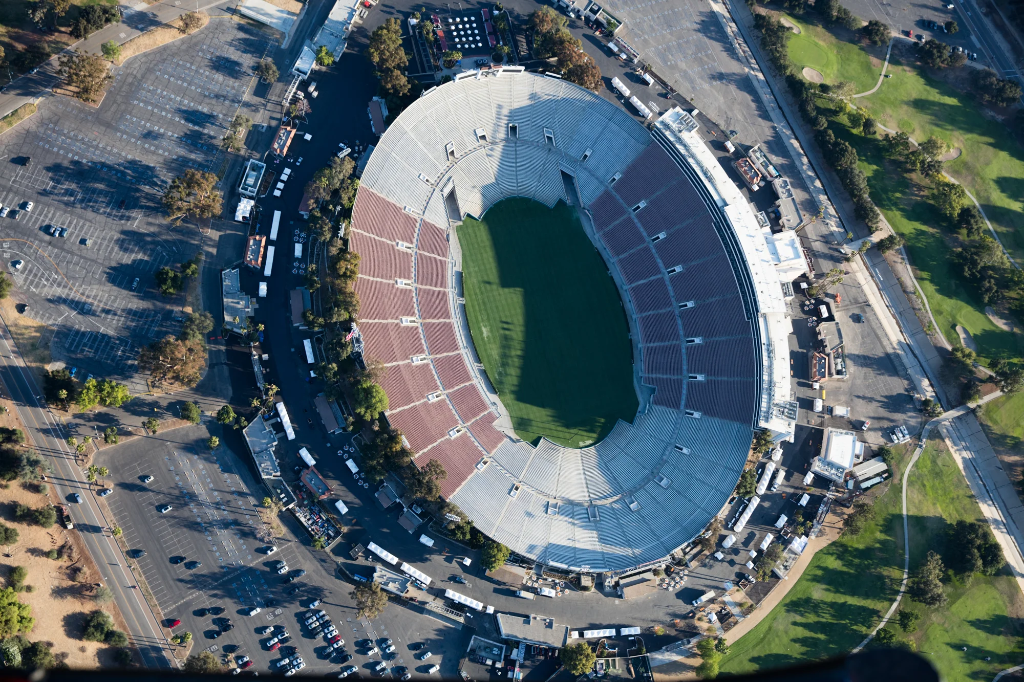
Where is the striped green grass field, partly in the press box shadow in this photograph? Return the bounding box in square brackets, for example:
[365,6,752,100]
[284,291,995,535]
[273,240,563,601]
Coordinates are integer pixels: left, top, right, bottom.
[458,199,638,447]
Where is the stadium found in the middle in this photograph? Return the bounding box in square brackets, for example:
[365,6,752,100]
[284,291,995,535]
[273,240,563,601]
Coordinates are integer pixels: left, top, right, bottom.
[347,70,761,579]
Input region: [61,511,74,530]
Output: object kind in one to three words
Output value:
vehicle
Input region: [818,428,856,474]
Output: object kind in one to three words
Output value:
building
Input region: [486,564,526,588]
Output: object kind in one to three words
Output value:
shed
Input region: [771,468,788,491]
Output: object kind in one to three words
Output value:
vehicle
